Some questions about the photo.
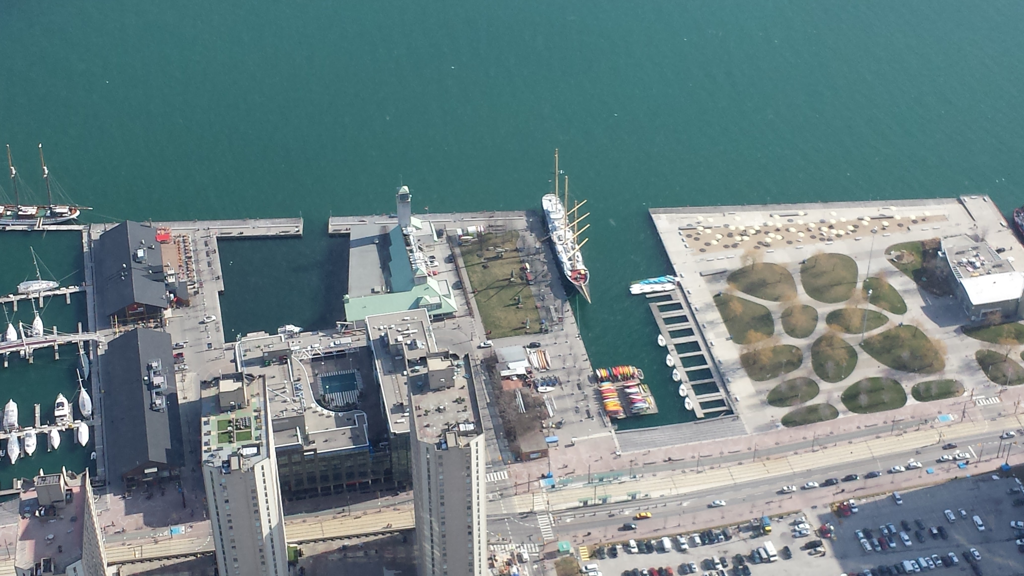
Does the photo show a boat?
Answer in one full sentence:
Yes, I can see a boat in this picture.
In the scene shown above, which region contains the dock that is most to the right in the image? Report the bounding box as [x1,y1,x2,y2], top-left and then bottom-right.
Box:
[646,292,734,419]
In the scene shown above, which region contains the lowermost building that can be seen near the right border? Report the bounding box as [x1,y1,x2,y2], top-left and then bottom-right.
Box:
[937,234,1024,322]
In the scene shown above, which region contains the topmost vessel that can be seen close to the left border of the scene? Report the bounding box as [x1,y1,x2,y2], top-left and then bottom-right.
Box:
[0,149,93,220]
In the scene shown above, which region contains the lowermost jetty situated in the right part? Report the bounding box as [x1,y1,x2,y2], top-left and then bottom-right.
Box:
[596,373,658,420]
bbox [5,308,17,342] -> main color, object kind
white boat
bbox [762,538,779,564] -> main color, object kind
white vehicle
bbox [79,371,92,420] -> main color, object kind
white boat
